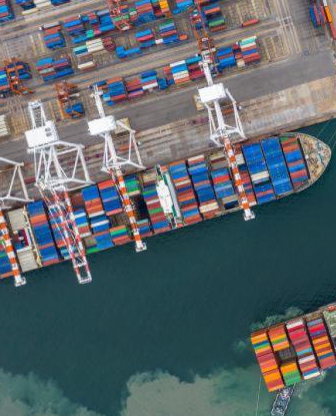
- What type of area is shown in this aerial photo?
port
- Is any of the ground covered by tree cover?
No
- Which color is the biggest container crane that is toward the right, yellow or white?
white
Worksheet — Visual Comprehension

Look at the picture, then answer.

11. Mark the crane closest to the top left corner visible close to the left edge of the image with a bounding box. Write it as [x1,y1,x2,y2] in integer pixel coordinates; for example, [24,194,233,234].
[5,55,43,102]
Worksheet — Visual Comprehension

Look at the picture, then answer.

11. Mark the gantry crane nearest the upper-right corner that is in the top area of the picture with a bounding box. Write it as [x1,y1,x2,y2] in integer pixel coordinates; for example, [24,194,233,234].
[190,7,220,56]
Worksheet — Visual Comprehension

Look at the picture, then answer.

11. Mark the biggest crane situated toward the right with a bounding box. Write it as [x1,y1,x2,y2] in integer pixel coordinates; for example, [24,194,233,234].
[198,53,255,220]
